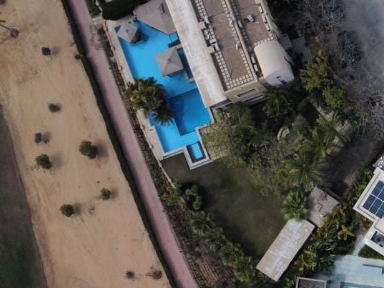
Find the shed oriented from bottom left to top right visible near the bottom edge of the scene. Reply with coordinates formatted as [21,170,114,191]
[256,219,319,281]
